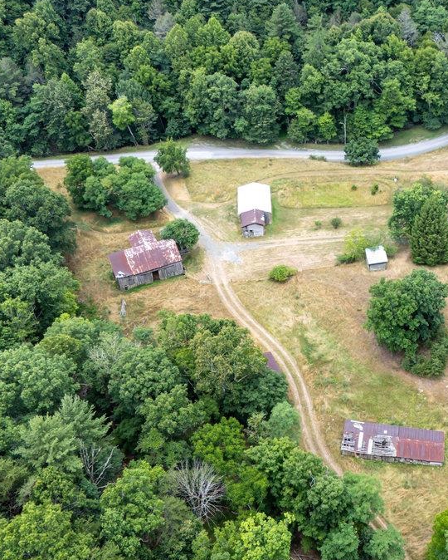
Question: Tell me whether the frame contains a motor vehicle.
No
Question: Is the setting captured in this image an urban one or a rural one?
rural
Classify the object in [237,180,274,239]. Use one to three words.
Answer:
barn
